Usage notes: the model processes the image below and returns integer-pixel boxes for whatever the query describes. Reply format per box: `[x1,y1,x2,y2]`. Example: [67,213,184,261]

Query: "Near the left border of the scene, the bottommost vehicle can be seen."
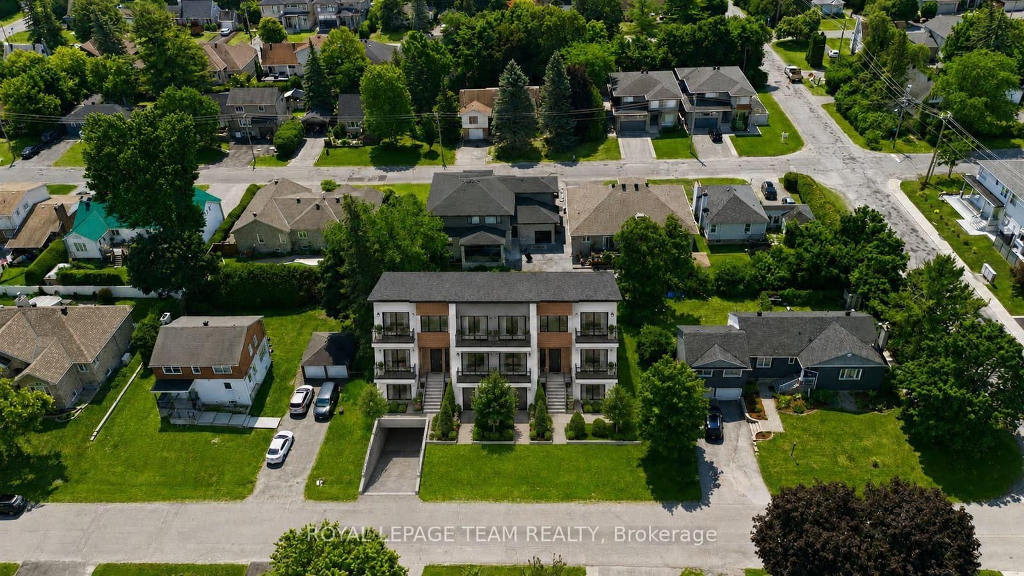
[0,490,32,518]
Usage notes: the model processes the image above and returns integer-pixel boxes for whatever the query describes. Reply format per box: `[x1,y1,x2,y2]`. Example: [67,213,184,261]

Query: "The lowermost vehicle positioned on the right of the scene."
[703,408,729,439]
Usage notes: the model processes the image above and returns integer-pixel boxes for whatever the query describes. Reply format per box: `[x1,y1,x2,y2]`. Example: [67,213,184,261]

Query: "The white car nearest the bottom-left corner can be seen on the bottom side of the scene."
[262,429,294,466]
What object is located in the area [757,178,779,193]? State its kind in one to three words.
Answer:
car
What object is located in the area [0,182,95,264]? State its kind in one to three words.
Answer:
house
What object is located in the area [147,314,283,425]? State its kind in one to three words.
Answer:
house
